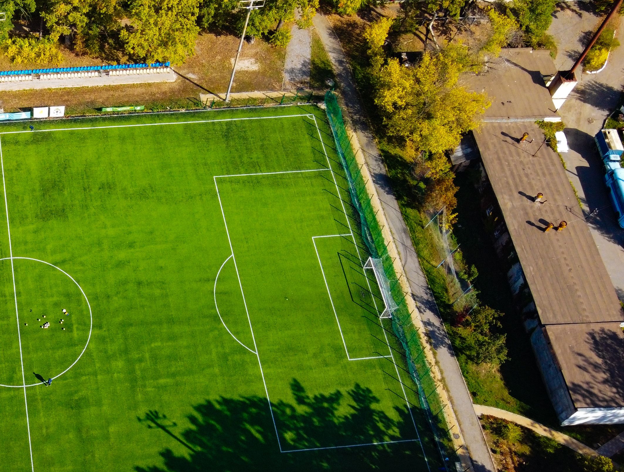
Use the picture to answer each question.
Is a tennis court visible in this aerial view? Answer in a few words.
No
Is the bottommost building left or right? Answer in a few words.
right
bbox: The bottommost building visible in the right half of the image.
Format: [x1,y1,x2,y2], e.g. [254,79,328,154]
[531,325,624,420]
